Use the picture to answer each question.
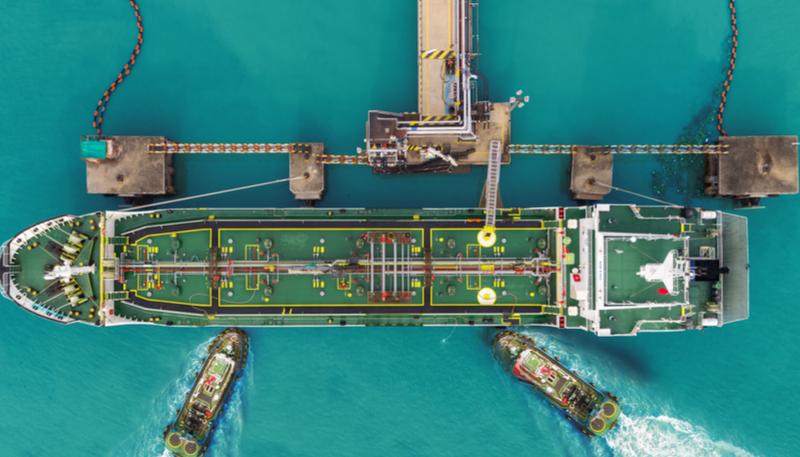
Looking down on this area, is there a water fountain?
No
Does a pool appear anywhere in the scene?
No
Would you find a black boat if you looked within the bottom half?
No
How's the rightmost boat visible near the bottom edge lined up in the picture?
at an angle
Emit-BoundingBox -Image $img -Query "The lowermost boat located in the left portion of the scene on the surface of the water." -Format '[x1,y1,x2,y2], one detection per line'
[158,327,250,457]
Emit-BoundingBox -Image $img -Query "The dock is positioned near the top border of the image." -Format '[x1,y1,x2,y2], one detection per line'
[418,0,480,118]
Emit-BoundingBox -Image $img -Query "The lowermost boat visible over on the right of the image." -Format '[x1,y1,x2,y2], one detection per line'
[488,327,627,439]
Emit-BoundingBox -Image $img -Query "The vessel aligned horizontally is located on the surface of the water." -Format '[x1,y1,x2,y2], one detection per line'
[0,205,753,336]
